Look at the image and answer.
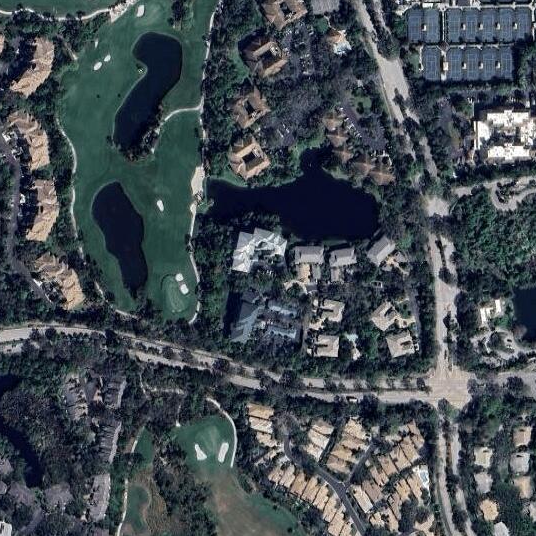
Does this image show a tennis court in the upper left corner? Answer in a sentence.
No, the scene shows no tennis court in the upper left corner.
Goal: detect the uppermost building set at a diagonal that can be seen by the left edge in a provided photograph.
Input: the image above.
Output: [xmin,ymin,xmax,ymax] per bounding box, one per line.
[11,37,58,98]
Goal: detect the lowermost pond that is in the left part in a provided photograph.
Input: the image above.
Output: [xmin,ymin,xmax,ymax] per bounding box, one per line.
[92,183,148,299]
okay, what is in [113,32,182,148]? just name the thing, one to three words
pond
